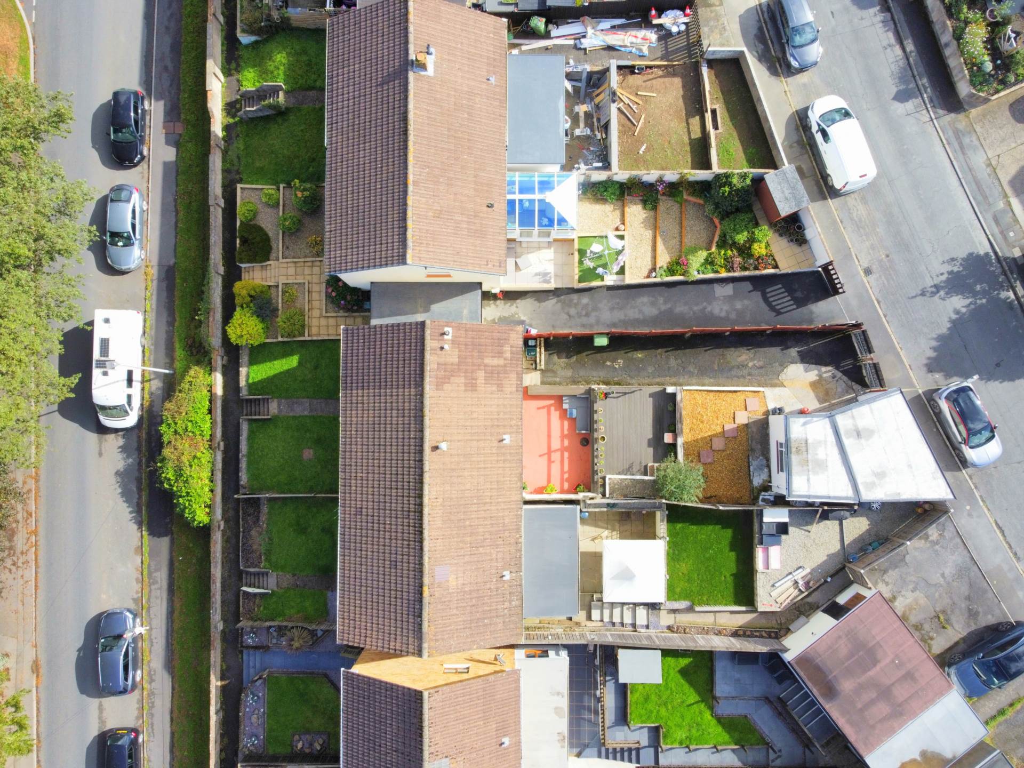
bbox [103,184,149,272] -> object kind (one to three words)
car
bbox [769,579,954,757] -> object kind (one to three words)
building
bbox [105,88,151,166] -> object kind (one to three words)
car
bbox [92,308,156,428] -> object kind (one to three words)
camper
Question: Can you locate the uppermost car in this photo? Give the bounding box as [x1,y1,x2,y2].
[771,0,829,74]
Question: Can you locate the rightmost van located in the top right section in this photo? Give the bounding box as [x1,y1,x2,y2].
[803,98,880,199]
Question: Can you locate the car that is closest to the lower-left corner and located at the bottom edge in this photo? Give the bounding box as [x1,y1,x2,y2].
[103,725,147,768]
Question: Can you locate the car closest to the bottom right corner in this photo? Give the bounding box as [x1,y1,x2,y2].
[946,618,1024,698]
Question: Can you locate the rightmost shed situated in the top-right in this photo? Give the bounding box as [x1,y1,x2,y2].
[753,164,810,225]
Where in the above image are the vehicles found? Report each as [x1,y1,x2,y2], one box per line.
[803,98,880,199]
[92,308,156,428]
[93,607,143,697]
[103,184,149,272]
[771,0,829,74]
[926,385,1002,469]
[103,725,147,768]
[105,88,151,166]
[946,618,1024,698]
